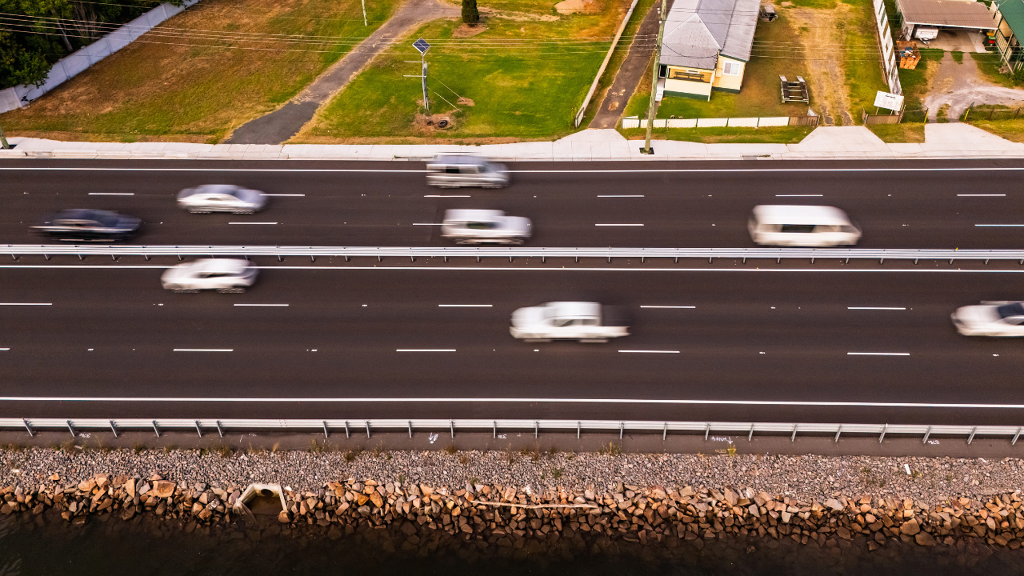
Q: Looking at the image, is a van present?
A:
Yes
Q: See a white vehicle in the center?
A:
Yes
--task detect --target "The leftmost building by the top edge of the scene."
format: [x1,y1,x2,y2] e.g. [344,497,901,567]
[655,0,757,102]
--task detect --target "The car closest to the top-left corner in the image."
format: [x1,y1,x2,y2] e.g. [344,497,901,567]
[40,207,136,239]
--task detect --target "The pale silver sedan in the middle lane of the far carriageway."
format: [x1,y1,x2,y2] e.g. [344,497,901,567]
[182,181,266,212]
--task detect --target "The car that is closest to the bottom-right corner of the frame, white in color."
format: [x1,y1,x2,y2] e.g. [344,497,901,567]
[948,296,1024,335]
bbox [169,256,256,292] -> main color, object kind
white car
